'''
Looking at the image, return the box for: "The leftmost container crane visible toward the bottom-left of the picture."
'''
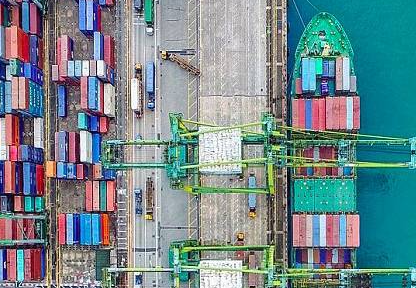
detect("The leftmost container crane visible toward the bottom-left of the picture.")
[0,214,51,247]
